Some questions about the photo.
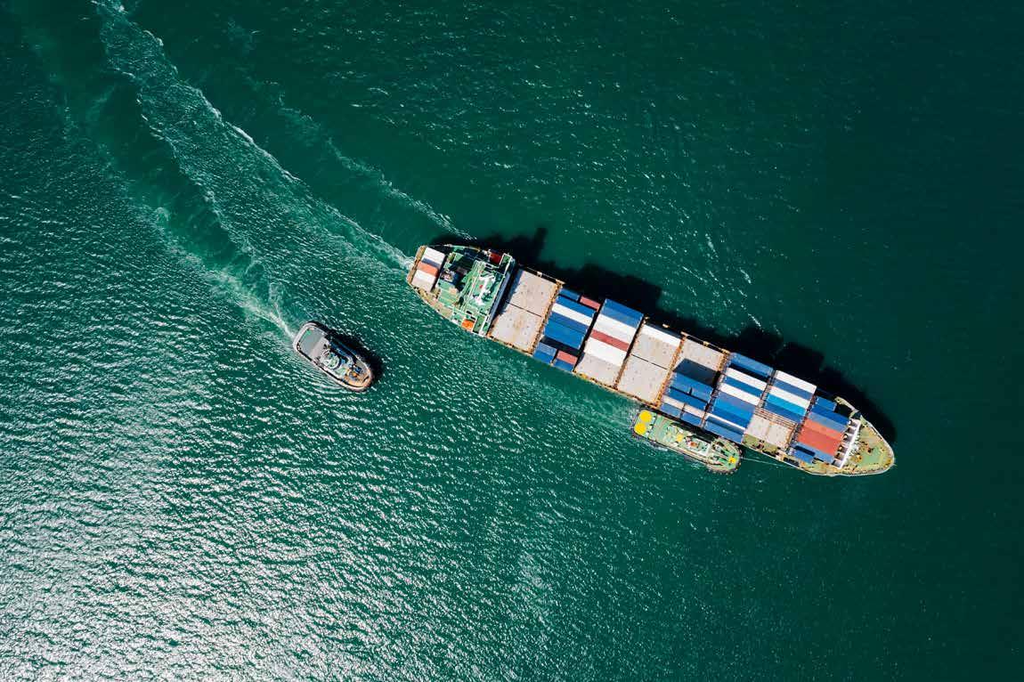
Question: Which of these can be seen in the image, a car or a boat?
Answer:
boat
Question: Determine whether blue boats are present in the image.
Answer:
No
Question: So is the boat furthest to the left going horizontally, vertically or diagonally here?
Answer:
diagonally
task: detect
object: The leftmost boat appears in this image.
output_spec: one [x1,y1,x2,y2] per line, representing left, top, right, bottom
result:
[293,321,373,392]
